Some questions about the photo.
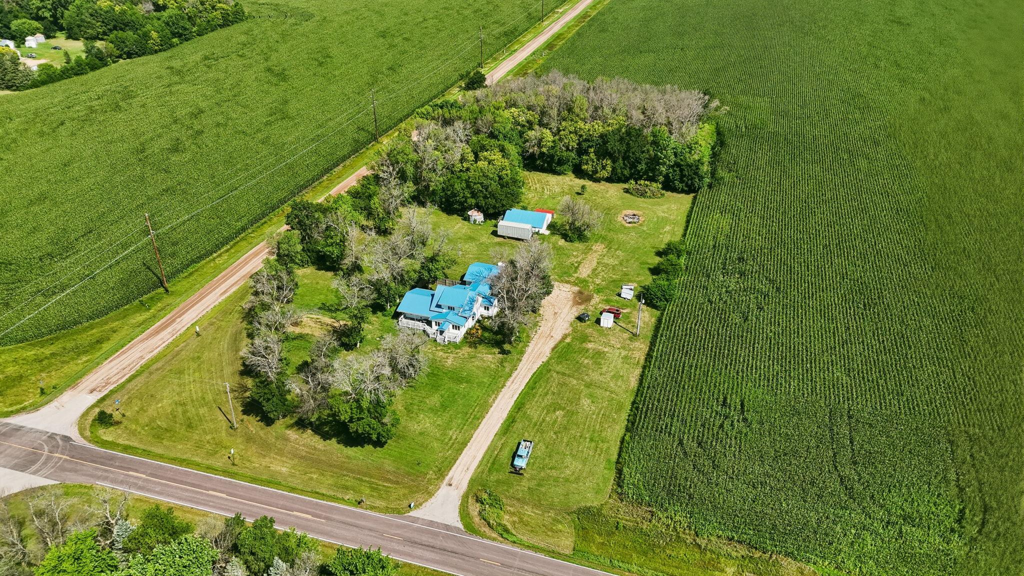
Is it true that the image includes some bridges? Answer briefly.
No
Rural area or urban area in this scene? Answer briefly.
rural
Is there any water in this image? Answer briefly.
No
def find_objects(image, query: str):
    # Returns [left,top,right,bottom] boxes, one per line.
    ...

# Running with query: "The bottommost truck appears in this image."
[509,442,535,474]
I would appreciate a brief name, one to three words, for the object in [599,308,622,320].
vehicle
